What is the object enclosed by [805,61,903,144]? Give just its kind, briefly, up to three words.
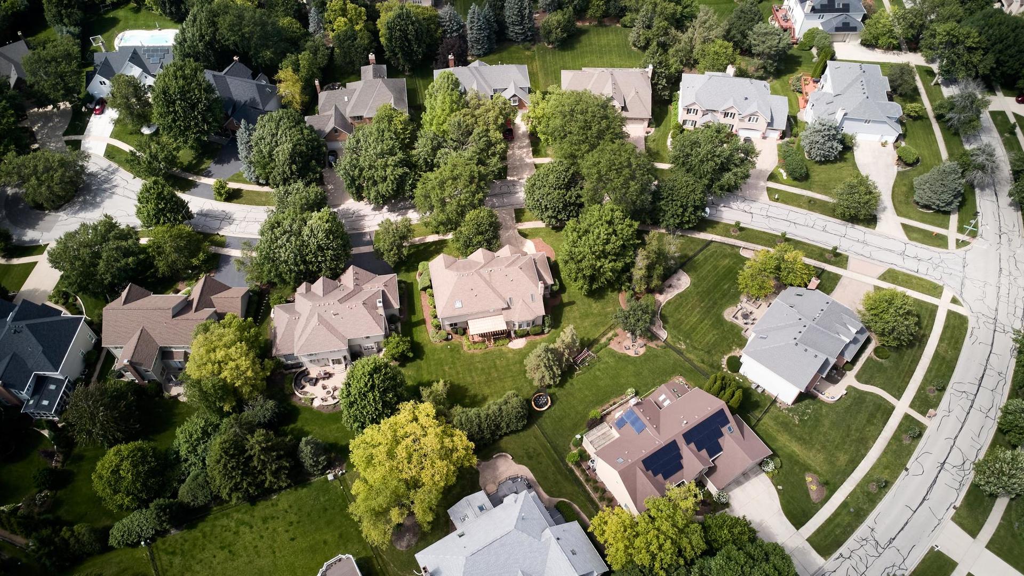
house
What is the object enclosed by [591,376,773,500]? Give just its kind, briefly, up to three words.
house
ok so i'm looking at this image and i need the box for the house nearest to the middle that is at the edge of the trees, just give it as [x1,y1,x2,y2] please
[428,240,556,333]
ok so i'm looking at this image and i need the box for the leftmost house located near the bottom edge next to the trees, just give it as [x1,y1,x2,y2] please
[415,488,615,576]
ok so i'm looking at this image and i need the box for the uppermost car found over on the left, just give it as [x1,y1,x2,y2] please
[86,98,106,114]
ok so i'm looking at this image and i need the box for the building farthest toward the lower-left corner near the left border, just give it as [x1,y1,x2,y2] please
[0,293,96,423]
